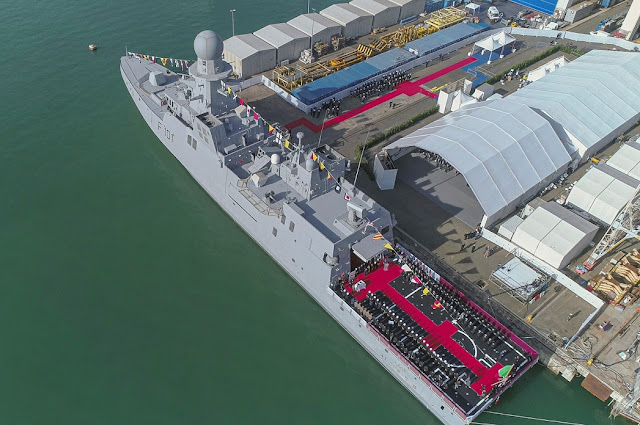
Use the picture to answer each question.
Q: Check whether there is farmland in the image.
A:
No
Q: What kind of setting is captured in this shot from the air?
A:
port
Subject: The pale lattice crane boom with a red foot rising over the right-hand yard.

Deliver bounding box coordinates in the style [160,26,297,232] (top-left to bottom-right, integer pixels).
[570,159,640,278]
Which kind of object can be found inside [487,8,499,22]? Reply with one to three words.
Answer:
vehicle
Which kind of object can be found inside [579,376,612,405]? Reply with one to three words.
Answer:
pier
